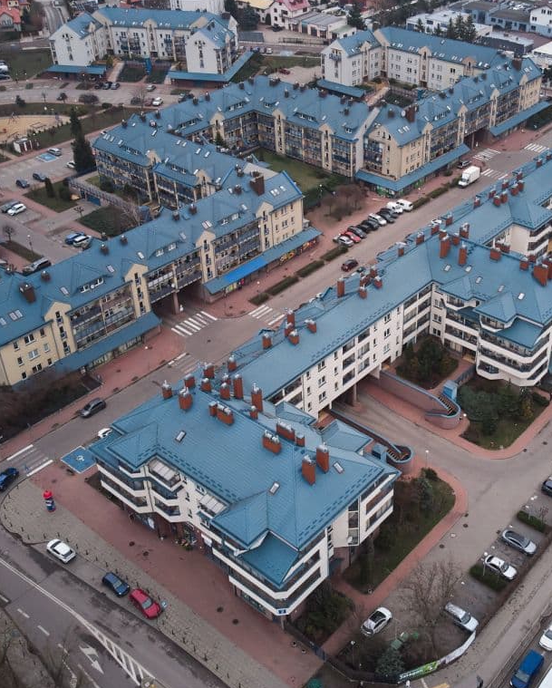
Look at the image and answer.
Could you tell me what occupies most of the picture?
buildings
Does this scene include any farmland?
No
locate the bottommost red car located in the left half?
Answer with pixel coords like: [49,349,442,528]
[127,587,163,618]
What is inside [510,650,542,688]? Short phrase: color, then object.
blue car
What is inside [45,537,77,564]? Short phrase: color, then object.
white car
